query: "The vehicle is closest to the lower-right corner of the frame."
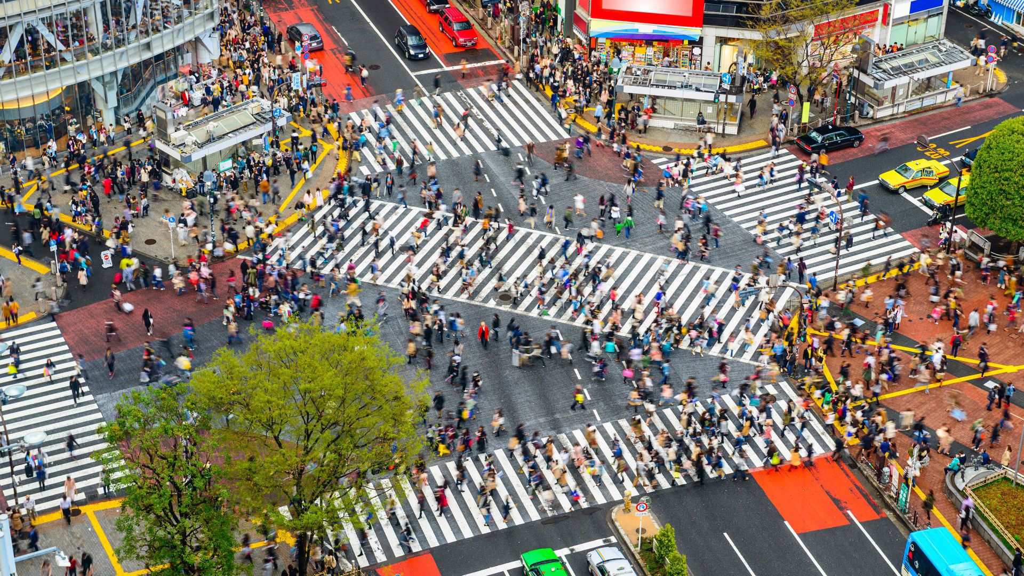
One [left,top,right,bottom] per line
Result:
[903,526,989,576]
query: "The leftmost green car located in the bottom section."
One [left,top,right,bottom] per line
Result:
[529,553,578,576]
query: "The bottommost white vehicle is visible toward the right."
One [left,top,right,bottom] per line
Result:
[591,549,644,576]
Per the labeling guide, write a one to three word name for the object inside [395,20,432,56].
car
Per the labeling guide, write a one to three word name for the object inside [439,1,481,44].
car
